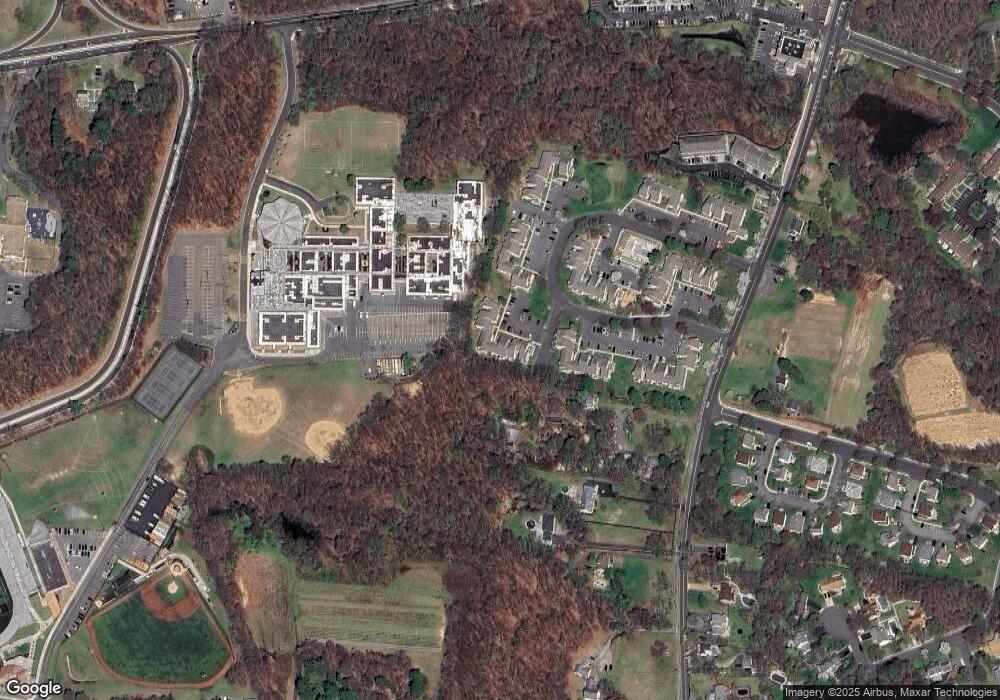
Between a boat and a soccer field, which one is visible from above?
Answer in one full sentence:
It is a soccer field that can be seen here.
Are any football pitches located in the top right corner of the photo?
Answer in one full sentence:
No, I can find no football pitch in the top right corner of the photo.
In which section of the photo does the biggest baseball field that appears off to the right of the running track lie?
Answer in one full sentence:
Look in the bottom left portion of the view to spot the biggest baseball field that appears off to the right of the running track.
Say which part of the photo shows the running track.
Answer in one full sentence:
Look in the bottom left portion of the view to spot the running track.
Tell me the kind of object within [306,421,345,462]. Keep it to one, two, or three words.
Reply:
baseball field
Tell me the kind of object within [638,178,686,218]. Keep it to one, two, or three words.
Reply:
building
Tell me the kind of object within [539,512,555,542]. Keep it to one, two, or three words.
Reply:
house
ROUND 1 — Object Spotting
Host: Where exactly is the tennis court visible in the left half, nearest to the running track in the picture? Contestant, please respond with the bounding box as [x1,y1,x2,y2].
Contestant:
[133,341,204,420]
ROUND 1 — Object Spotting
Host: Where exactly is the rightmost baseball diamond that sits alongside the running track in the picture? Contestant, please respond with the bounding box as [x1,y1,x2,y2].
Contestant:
[86,560,235,687]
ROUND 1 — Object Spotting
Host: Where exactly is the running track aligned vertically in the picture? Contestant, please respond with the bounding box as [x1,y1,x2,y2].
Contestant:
[0,488,40,645]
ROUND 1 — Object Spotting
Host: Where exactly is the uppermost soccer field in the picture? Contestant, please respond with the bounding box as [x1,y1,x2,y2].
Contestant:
[303,119,400,170]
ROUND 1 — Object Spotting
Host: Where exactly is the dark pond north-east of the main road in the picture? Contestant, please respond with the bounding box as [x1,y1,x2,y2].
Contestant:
[848,93,942,163]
